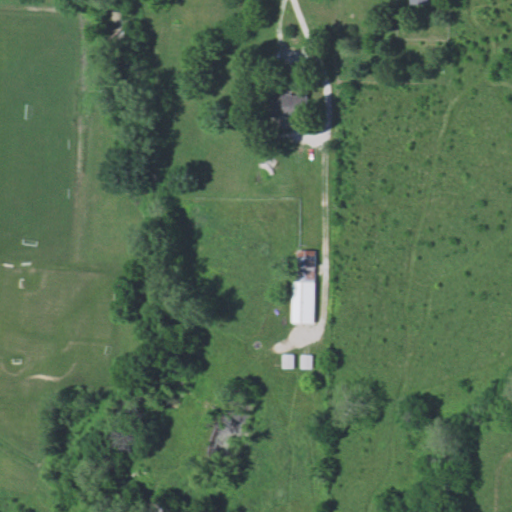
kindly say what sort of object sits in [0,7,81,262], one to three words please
sports field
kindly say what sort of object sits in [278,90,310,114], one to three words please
house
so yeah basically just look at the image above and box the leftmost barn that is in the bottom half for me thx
[212,418,244,452]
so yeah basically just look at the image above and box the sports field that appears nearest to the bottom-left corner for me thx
[0,272,112,392]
